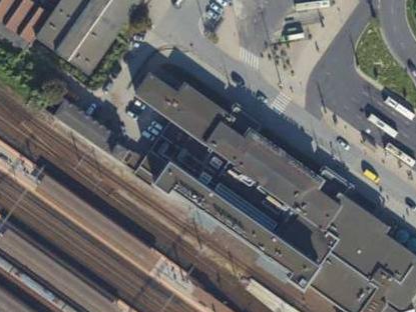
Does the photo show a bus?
Yes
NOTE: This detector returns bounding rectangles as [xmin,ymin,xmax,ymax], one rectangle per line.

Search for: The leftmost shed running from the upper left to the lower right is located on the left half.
[56,99,112,153]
